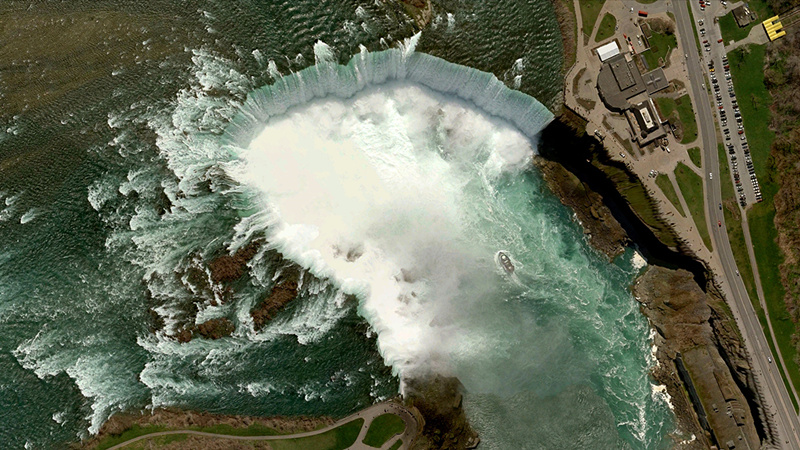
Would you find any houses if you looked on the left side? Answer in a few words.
No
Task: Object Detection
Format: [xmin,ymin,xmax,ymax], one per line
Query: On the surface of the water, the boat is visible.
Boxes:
[500,251,516,275]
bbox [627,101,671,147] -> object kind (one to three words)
house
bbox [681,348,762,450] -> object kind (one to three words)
building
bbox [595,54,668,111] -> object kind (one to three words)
building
